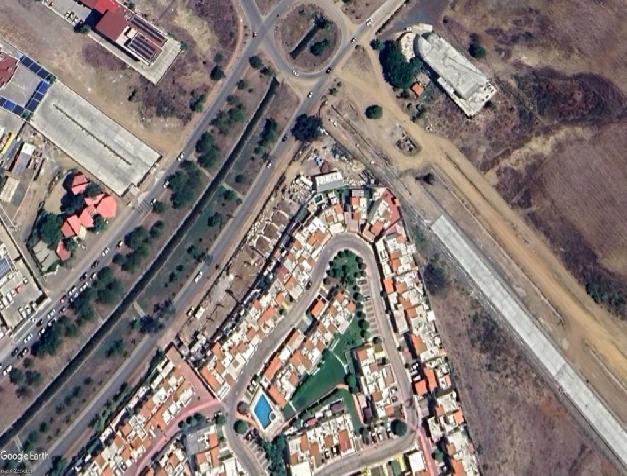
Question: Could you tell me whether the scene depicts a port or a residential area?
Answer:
residential area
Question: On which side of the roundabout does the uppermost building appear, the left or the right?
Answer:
left of it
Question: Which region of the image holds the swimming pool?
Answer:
bottom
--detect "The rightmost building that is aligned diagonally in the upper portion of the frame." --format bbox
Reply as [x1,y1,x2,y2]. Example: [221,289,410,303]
[421,37,487,98]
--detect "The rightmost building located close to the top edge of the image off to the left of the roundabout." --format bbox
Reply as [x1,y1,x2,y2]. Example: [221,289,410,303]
[80,0,168,61]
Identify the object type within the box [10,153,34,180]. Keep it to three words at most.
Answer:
shed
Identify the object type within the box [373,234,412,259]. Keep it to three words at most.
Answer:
house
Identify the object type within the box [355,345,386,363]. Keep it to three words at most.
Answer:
house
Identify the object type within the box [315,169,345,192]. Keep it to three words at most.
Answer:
shed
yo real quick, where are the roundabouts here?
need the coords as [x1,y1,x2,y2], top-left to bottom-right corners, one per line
[268,0,351,81]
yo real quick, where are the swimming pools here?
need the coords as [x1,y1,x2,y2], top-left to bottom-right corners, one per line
[249,388,285,436]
